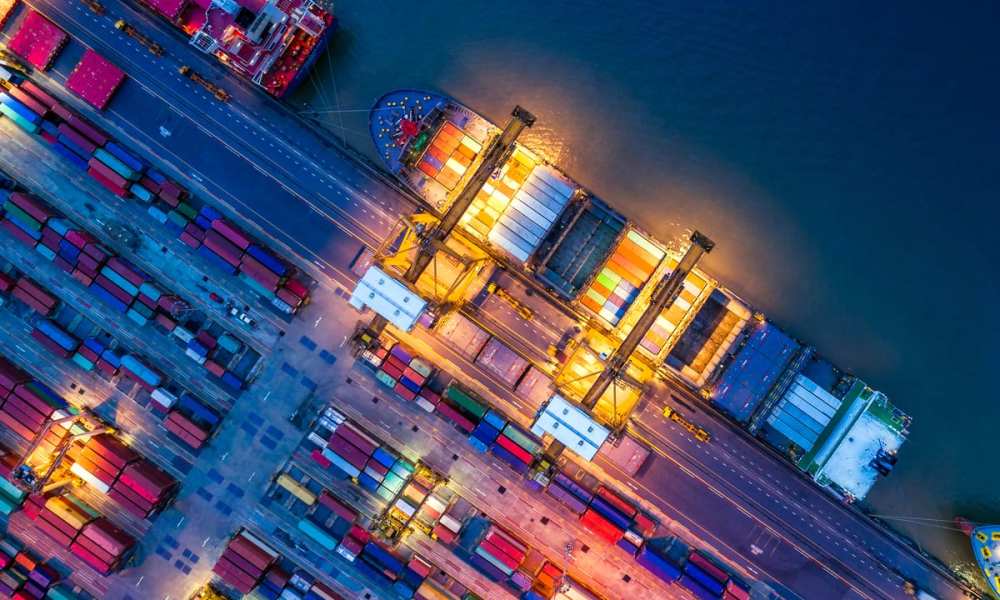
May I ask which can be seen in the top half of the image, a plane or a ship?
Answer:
ship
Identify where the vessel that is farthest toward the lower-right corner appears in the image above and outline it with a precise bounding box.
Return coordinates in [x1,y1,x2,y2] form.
[941,517,1000,598]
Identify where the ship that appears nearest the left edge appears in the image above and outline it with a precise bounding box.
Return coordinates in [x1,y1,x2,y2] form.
[145,0,337,98]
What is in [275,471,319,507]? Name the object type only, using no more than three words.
shipping container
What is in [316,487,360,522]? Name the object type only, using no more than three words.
shipping container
